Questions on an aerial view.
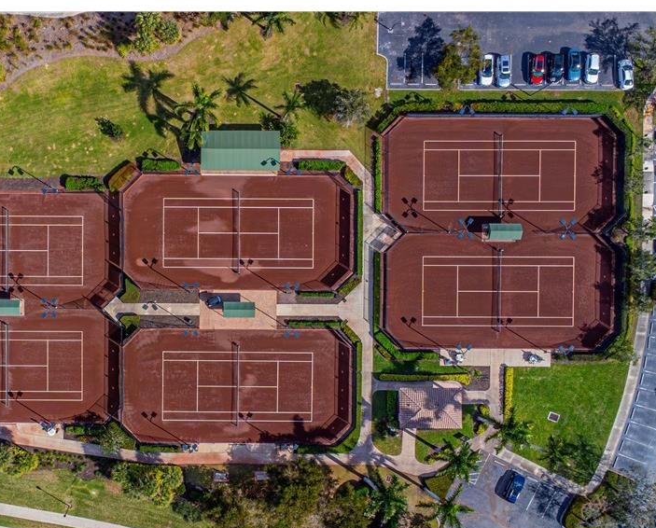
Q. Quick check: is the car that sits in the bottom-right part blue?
Yes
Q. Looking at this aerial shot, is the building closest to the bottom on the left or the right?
right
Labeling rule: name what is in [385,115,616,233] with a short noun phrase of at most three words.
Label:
tennis court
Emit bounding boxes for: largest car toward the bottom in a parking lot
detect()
[504,472,527,503]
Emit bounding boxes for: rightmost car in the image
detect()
[620,58,638,88]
